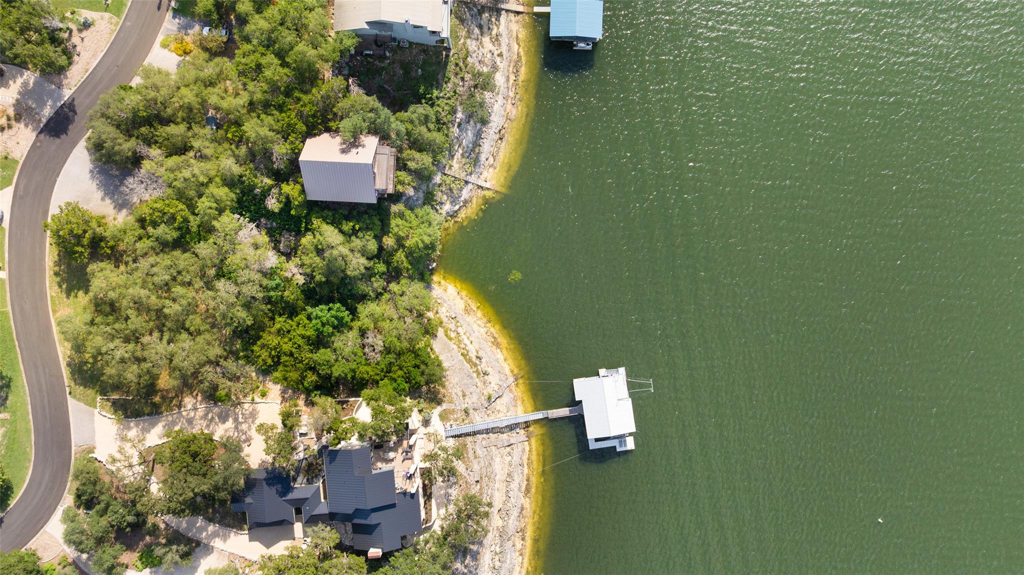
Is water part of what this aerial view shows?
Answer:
Yes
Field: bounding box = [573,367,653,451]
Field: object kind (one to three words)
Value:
pier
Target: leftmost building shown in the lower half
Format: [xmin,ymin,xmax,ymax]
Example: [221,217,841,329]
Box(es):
[231,468,329,527]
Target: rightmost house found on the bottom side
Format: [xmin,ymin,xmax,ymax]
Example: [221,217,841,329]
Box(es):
[323,444,422,560]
